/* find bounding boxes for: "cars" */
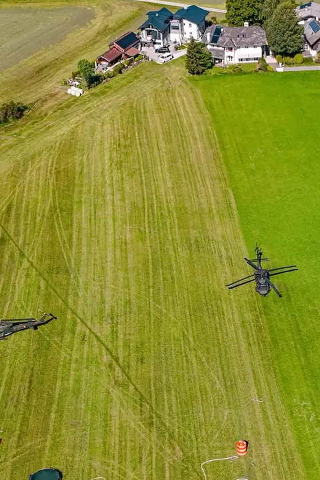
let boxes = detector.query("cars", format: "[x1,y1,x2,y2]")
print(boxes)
[159,52,173,61]
[155,48,170,55]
